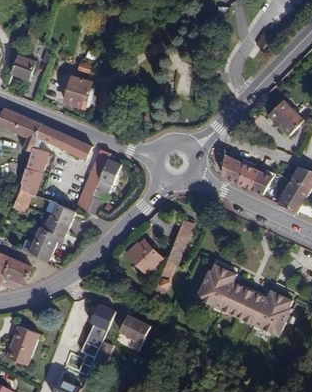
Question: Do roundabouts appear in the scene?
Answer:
Yes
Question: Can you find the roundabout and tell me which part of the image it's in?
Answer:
center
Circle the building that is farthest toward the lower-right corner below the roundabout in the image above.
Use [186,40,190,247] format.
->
[200,266,294,338]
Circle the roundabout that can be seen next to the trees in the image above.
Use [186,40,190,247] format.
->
[111,120,232,212]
